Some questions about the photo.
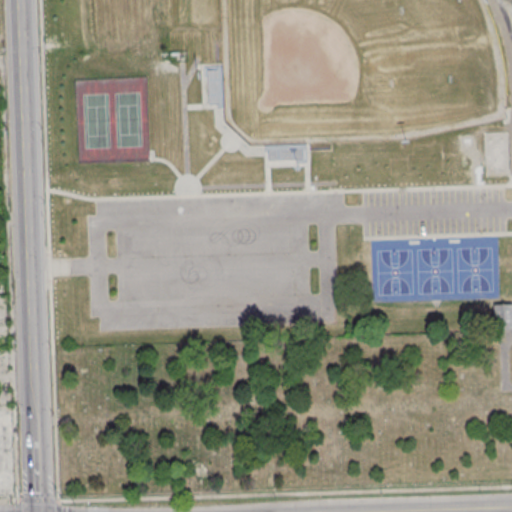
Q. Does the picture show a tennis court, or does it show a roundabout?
tennis court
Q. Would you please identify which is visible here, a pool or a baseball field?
baseball field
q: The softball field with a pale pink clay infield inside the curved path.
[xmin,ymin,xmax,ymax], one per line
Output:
[256,6,361,114]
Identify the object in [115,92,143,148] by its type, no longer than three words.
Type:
tennis court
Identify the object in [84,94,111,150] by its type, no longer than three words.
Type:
tennis court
